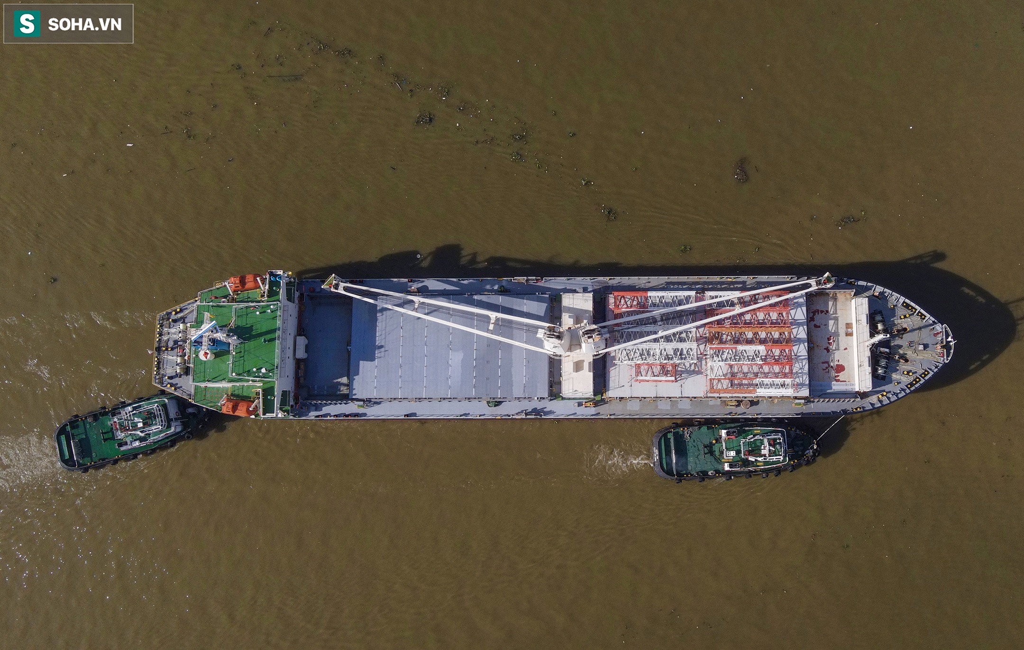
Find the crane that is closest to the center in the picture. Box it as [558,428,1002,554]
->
[324,272,578,360]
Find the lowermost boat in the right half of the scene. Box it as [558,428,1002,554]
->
[650,419,826,483]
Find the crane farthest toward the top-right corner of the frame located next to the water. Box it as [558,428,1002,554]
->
[575,270,837,360]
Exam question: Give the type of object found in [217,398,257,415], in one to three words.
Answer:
boat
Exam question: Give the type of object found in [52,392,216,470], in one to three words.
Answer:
boat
